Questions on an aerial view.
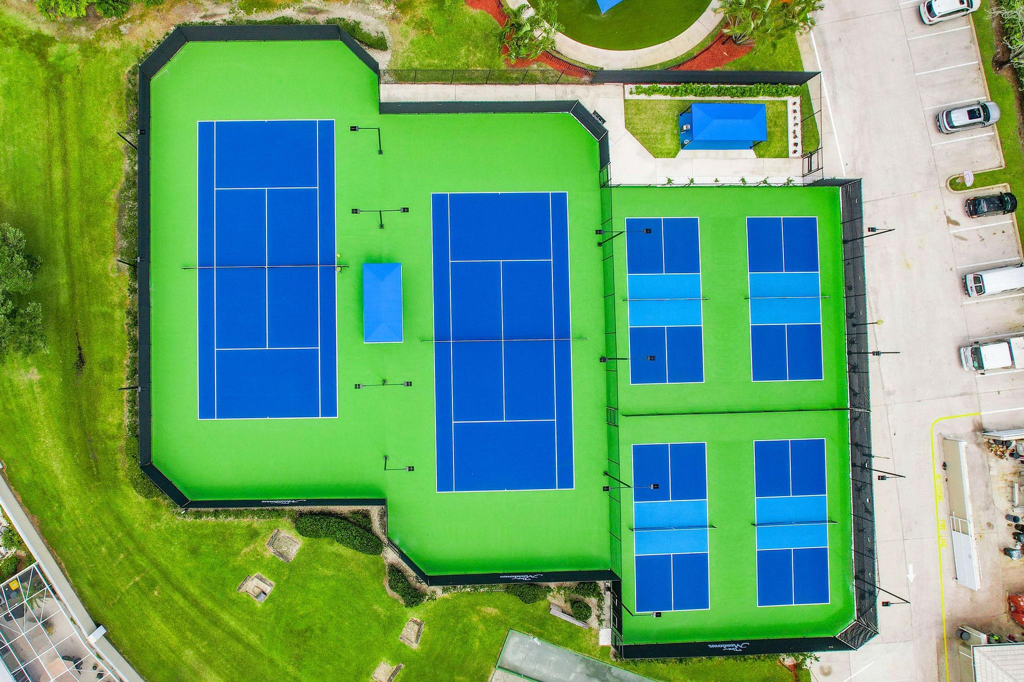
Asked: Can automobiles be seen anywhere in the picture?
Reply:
Yes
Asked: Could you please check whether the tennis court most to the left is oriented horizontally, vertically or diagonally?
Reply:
vertically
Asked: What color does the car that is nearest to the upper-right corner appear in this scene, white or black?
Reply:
white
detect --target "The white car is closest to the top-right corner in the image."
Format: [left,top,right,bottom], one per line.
[920,0,979,27]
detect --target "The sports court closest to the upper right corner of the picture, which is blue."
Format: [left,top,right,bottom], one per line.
[746,216,824,382]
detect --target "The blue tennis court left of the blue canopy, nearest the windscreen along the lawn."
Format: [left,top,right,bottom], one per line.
[196,119,338,421]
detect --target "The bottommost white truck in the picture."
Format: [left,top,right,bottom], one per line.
[958,334,1024,375]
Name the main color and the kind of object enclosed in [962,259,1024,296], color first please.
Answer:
white van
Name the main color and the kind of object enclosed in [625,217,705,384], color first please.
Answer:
blue sports court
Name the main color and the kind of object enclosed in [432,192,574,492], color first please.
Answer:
blue tennis court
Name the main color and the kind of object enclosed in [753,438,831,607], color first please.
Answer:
blue sports court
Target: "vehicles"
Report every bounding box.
[958,334,1024,375]
[920,0,979,27]
[965,186,1017,216]
[962,259,1024,296]
[935,100,997,134]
